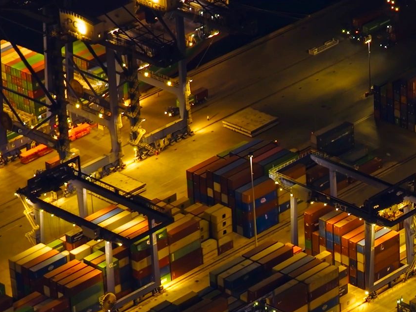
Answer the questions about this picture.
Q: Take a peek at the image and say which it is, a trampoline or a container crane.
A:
container crane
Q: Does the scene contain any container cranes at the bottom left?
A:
Yes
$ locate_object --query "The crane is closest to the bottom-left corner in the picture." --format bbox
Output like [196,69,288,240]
[3,163,176,312]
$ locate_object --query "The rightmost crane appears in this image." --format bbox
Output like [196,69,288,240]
[259,150,416,301]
